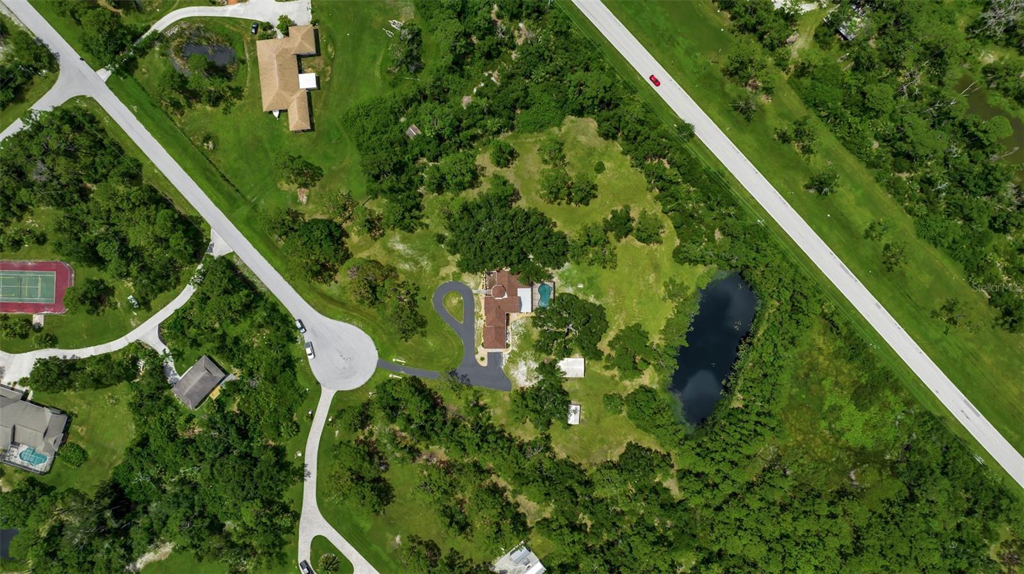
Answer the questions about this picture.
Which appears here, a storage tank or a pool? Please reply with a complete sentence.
Looking from above, you can make out a pool.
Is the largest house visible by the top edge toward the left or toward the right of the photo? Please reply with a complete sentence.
You can find the largest house visible by the top edge on the left side of the picture.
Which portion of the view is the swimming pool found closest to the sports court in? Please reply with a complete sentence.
The swimming pool found closest to the sports court is in the bottom left part of the image.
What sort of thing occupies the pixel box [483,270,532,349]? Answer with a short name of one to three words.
house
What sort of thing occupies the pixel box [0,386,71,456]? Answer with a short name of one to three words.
house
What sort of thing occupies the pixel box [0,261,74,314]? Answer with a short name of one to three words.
sports court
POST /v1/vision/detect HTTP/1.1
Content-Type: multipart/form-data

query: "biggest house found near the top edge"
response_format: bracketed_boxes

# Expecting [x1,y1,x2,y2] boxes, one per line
[256,24,318,131]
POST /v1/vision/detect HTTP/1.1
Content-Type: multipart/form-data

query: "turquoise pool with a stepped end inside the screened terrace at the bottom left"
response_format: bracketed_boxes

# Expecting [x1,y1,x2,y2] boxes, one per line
[0,440,55,476]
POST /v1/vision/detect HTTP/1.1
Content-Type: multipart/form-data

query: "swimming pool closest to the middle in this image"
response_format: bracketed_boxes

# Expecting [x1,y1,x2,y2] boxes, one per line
[532,282,554,315]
